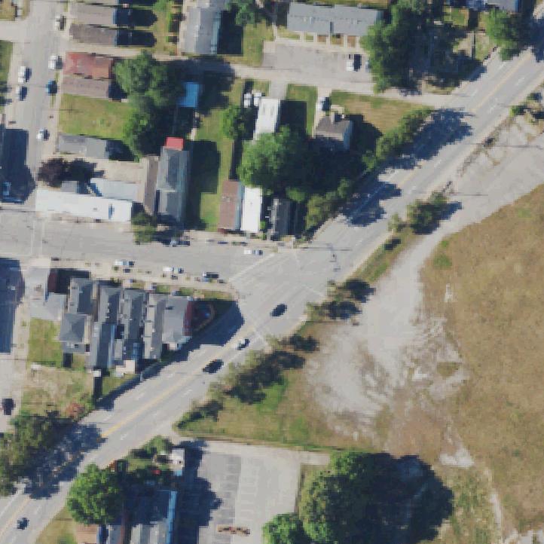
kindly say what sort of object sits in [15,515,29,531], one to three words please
car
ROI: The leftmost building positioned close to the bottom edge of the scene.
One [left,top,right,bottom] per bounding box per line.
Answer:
[74,524,101,544]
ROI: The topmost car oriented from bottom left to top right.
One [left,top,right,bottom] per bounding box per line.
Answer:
[271,303,286,317]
